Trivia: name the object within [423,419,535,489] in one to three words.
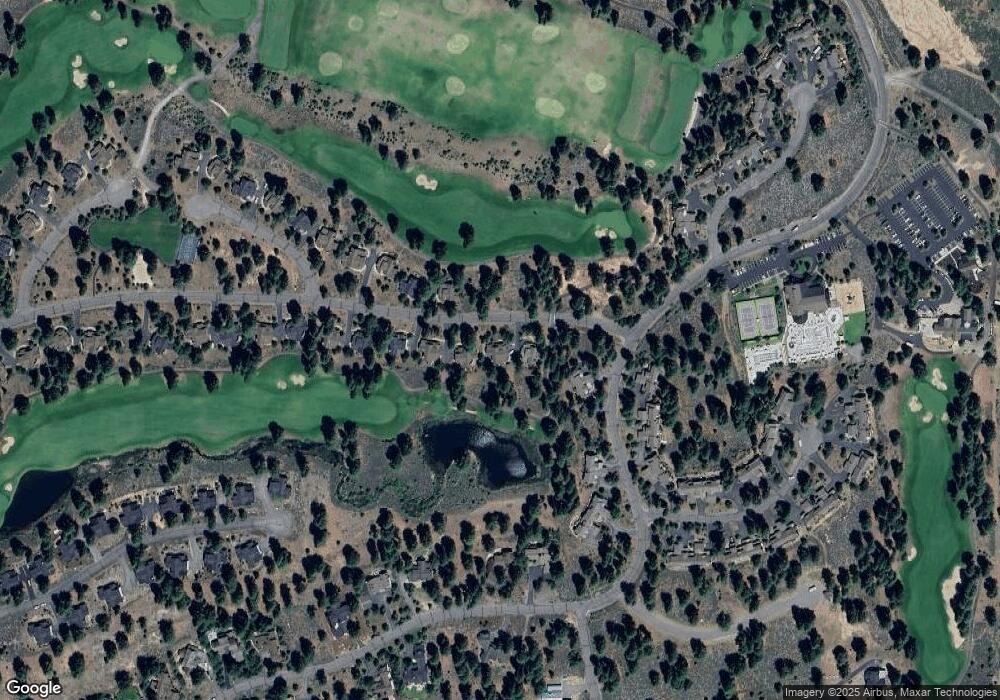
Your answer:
pond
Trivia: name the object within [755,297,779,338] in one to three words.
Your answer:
tennis court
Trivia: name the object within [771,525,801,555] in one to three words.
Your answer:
building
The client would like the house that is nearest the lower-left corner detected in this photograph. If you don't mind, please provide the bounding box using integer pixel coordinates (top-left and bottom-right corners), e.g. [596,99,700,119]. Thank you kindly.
[25,619,55,646]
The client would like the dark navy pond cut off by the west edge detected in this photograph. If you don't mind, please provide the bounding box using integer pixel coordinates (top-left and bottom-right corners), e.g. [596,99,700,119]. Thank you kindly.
[1,470,76,535]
